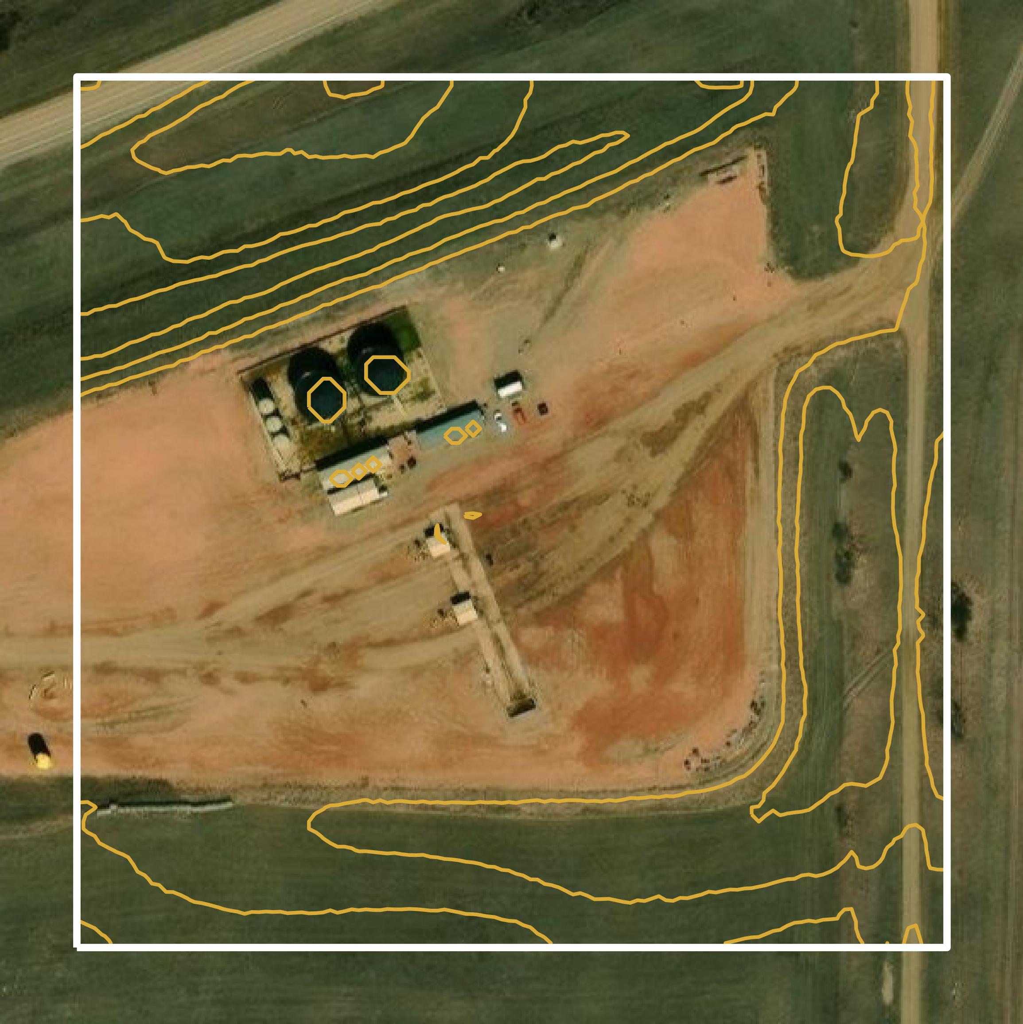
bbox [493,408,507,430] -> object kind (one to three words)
vehicle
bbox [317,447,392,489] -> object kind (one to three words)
building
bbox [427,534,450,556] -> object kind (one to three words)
shed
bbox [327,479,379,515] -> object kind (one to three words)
building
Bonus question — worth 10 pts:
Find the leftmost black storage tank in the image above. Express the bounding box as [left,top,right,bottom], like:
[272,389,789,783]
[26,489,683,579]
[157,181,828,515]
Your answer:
[296,372,348,422]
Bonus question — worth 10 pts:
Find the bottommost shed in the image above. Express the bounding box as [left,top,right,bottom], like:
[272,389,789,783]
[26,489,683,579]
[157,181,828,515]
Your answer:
[453,601,477,623]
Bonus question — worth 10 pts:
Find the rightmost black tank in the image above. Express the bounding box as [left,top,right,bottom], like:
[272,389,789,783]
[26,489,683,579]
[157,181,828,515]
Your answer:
[355,348,406,396]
